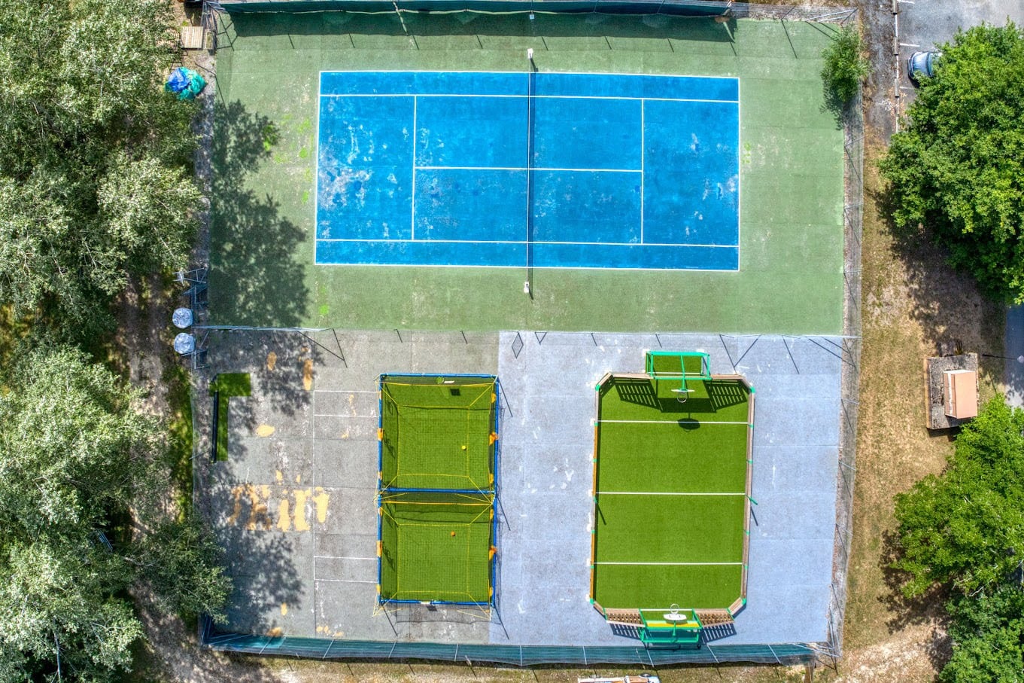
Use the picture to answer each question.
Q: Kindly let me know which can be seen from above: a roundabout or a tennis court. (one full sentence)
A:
There is a tennis court in the scene.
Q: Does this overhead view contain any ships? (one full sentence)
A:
No, no ship is visible in the view.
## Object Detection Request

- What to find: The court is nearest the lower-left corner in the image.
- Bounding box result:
[205,329,499,646]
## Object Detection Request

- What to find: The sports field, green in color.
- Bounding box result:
[586,348,760,645]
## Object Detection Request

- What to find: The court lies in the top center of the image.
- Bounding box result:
[208,6,844,336]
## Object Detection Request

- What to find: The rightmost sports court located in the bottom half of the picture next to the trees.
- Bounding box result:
[493,332,843,647]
